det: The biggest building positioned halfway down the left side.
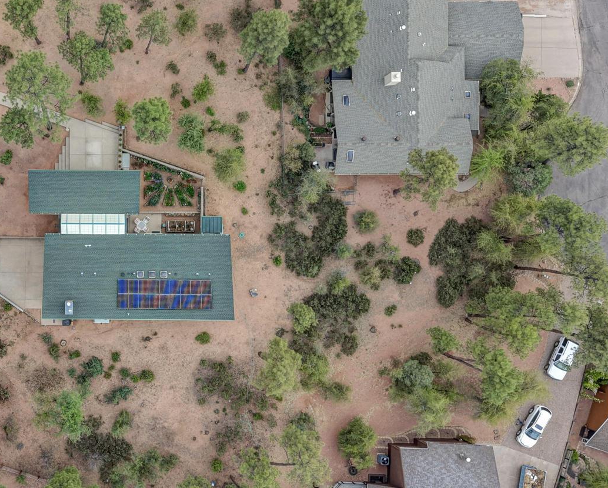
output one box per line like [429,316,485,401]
[28,169,235,321]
